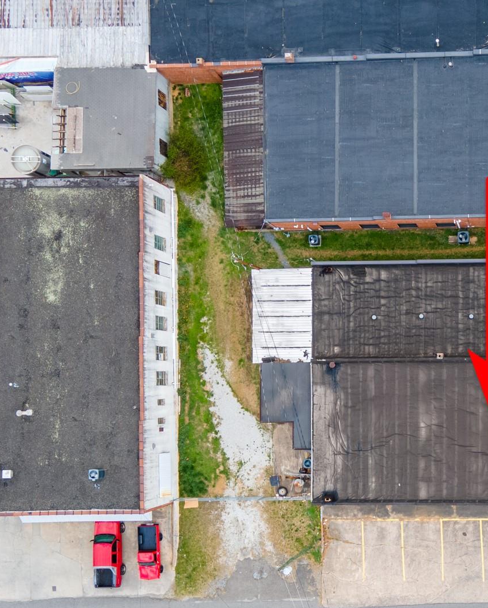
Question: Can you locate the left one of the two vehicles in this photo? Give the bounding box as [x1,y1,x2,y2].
[89,521,127,590]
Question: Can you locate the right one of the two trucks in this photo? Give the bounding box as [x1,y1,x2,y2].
[133,522,166,583]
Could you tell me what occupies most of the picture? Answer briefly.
buildings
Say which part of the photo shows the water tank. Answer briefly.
top left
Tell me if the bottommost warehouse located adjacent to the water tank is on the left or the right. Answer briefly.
left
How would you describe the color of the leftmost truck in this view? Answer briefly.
red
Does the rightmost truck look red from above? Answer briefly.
Yes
